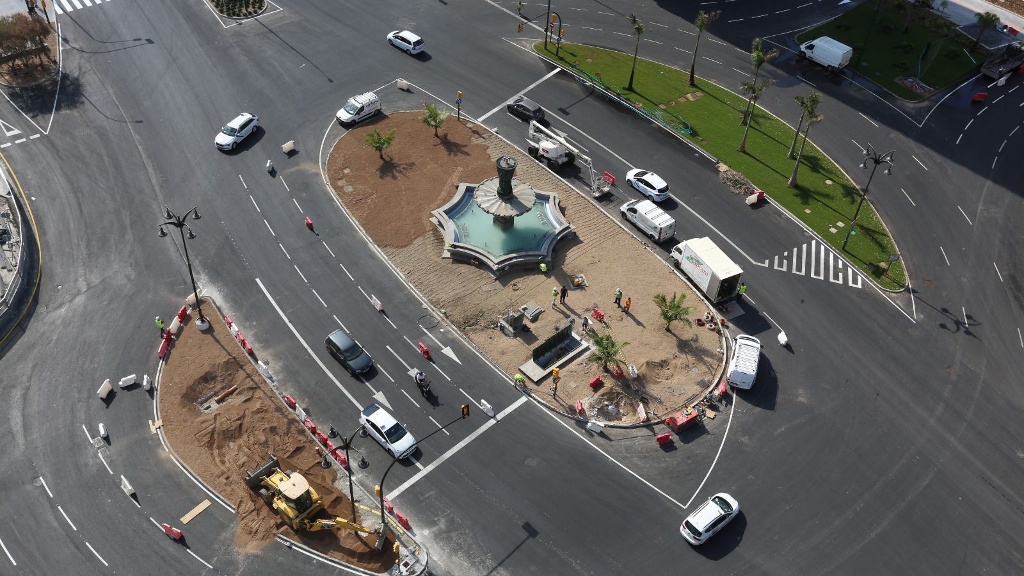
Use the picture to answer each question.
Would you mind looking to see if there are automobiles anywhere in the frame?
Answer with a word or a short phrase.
Yes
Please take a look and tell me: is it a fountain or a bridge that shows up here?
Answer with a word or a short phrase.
fountain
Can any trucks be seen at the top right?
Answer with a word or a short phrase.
Yes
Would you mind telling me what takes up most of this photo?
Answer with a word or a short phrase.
paved ground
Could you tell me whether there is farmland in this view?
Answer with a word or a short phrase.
No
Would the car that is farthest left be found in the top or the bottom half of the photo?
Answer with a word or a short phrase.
top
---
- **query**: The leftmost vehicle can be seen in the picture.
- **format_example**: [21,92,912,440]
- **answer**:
[214,114,258,149]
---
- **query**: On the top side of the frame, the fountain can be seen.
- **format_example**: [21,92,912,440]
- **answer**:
[426,155,582,281]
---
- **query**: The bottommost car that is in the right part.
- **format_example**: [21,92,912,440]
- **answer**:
[680,489,741,545]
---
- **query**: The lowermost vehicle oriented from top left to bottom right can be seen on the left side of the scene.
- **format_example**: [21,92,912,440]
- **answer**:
[240,453,389,555]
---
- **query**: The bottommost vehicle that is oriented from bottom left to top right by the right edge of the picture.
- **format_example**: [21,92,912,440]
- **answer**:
[982,28,1024,74]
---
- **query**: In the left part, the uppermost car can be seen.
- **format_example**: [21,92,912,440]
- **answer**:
[386,28,427,55]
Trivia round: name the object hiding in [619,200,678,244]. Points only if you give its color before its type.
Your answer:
white van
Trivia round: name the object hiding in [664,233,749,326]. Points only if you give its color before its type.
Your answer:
white truck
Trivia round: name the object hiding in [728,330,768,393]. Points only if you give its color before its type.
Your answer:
white van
